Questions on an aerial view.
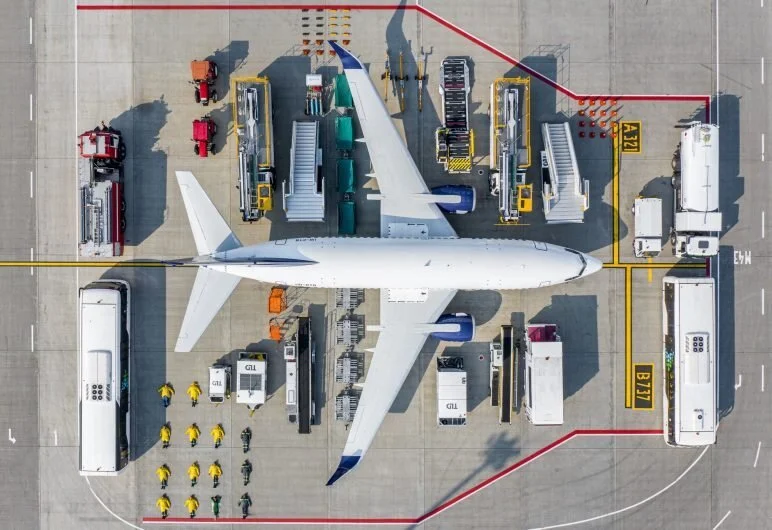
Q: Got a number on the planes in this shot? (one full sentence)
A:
Altogether the scene contains 1 plane.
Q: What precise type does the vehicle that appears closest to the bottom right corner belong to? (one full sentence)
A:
The vehicle that appears closest to the bottom right corner can be classified as a bus.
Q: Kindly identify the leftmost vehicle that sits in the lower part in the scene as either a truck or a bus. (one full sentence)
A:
The leftmost vehicle that sits in the lower part appears to be a bus.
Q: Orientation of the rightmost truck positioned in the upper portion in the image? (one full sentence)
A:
The rightmost truck positioned in the upper portion has been laid out from top to bottom relative to the frame.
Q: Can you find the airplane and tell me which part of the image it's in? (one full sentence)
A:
You can find the airplane in the center area of the picture.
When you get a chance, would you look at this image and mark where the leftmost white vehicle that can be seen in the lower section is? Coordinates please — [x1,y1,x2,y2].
[78,276,133,476]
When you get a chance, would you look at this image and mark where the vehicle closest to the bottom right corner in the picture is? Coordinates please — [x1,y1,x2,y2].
[662,275,716,449]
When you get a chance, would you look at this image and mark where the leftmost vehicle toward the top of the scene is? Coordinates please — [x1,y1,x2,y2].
[78,120,127,257]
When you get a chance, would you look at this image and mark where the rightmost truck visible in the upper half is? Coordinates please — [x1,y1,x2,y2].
[666,121,722,261]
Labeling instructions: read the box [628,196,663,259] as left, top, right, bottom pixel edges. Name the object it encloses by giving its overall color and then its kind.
white van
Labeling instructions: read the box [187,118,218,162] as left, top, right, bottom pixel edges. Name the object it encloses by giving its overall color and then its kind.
red work vehicle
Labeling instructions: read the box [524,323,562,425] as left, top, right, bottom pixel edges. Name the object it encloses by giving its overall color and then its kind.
white truck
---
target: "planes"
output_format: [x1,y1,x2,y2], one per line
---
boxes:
[160,41,601,487]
